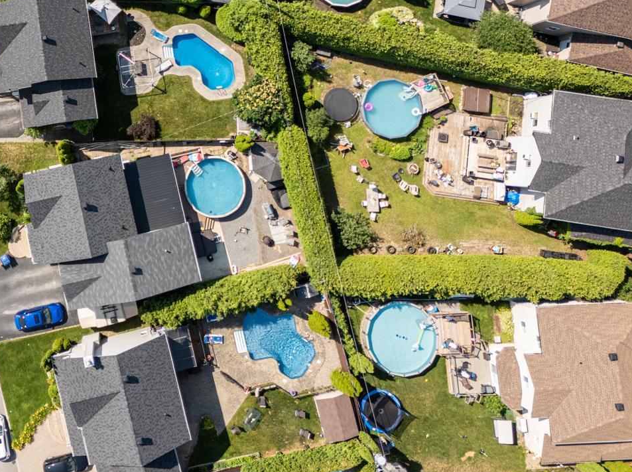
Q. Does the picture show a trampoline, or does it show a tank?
trampoline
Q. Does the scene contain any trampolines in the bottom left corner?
No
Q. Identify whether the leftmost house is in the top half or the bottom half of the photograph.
top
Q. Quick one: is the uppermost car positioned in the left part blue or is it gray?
blue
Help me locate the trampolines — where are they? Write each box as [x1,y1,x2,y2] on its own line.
[321,87,358,123]
[361,391,408,439]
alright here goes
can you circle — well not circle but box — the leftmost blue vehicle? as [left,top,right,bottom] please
[15,302,64,329]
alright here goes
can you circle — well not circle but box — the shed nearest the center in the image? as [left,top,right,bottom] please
[246,143,285,183]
